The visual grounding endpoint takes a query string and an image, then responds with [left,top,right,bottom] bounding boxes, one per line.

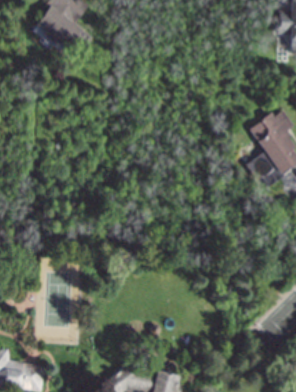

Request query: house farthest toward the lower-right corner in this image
[152,370,182,392]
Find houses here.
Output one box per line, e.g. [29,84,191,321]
[273,0,296,50]
[36,0,96,55]
[250,110,296,182]
[152,370,182,392]
[0,344,44,392]
[114,371,152,392]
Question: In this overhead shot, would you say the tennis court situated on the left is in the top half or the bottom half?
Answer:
bottom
